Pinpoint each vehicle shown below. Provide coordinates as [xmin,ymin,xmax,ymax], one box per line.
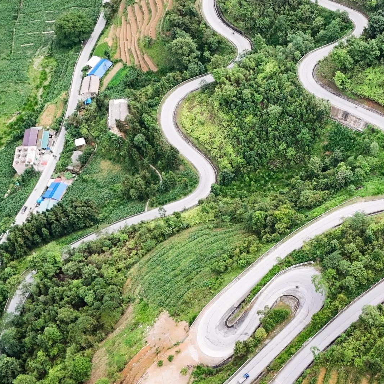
[236,370,251,384]
[20,205,27,213]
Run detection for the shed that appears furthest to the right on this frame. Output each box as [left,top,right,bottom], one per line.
[105,100,131,130]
